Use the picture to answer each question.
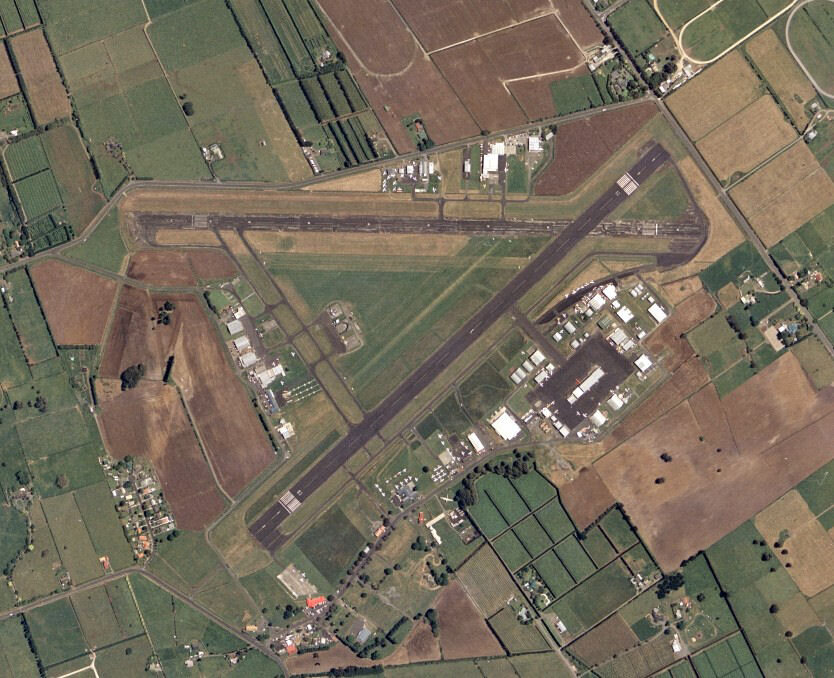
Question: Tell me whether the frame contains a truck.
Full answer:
No, I can't see a single truck in this photo.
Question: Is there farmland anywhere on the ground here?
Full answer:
Yes, there's farmland in this view.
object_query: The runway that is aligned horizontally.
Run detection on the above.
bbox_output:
[137,213,706,236]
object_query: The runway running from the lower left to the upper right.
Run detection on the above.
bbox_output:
[249,143,670,542]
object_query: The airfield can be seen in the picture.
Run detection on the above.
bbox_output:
[120,107,746,615]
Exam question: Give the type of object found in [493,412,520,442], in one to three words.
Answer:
hangar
